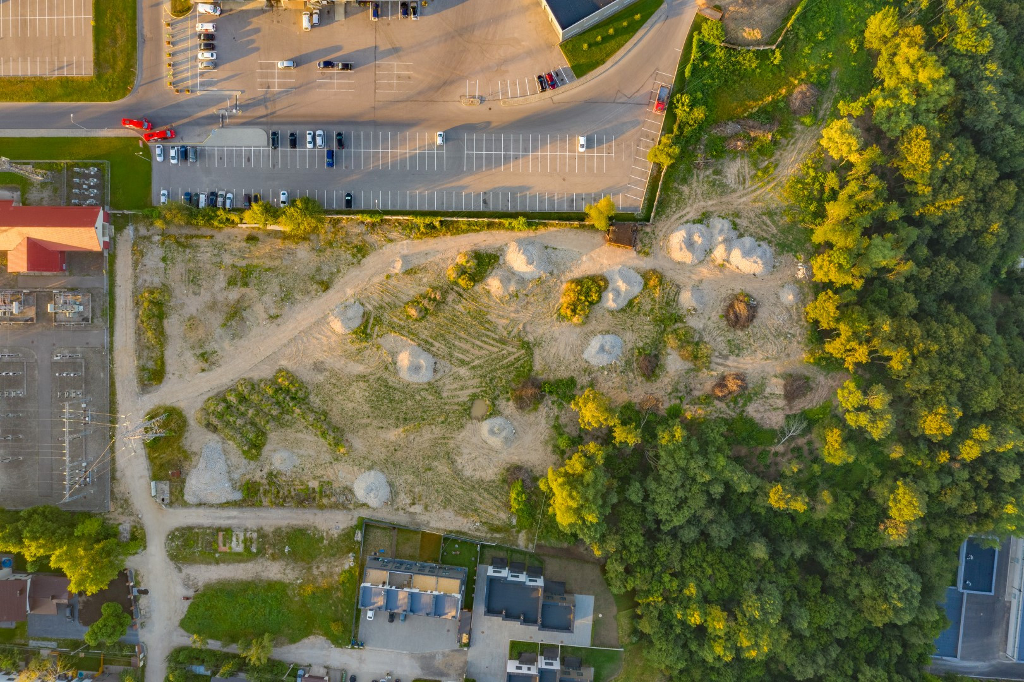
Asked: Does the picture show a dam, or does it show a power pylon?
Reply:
power pylon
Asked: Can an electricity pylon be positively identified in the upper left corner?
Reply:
Yes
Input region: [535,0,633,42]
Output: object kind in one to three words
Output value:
building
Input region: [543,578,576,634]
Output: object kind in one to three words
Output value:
house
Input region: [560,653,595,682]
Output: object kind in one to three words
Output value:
house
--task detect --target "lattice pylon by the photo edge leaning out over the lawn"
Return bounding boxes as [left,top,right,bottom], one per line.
[0,147,53,184]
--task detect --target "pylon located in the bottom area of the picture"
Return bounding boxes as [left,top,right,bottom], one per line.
[106,408,175,452]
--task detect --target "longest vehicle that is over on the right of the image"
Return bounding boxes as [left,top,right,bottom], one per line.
[653,81,671,116]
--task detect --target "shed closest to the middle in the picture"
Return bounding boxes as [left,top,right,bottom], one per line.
[606,226,634,248]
